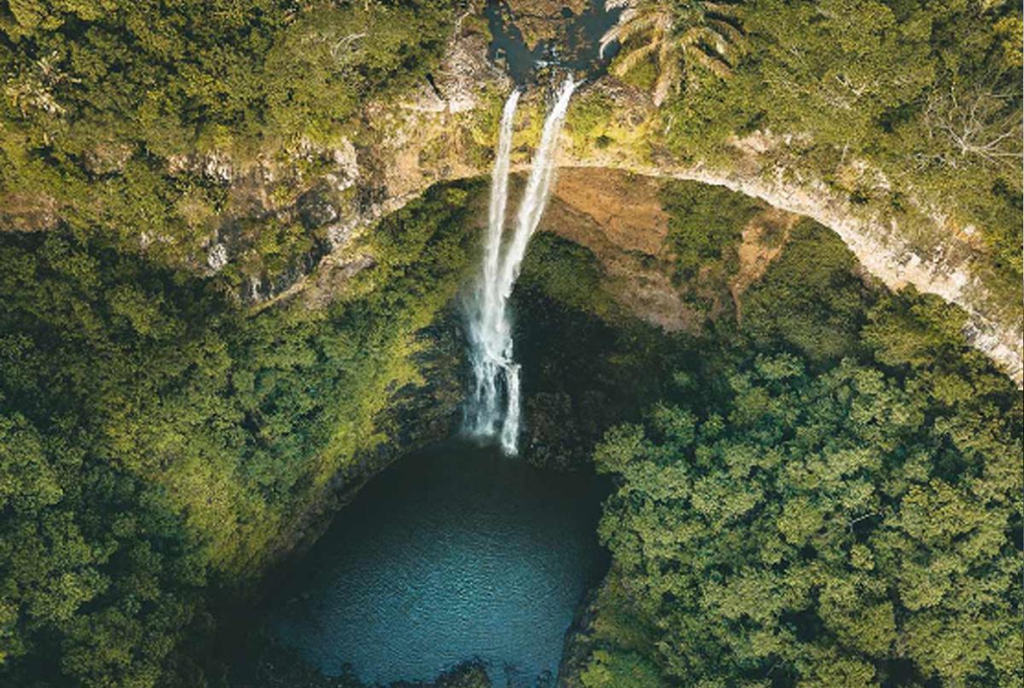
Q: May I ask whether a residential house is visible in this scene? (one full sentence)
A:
No, there's no residential house here.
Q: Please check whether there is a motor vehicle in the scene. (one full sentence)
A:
No, there is no motor vehicle in the image.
